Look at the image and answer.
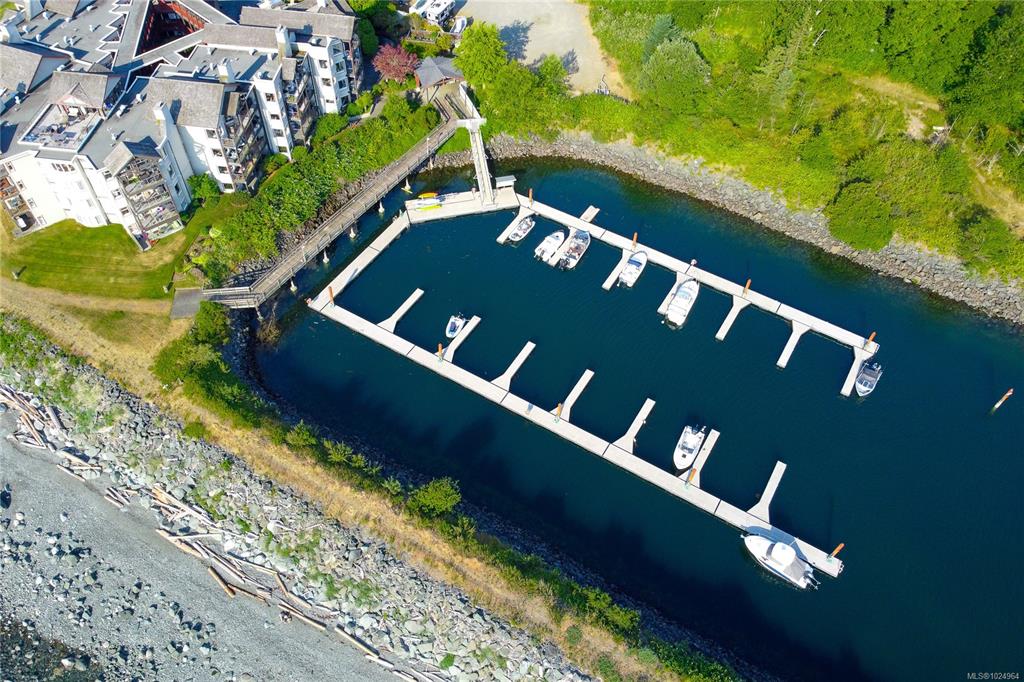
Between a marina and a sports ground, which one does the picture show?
marina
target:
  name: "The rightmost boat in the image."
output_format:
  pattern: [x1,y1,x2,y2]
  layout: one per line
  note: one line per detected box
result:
[854,360,884,398]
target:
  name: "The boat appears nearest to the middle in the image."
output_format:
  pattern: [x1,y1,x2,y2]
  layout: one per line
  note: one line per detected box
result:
[447,310,470,339]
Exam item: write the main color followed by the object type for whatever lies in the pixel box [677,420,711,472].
white boat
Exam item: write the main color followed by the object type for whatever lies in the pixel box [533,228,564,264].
white boat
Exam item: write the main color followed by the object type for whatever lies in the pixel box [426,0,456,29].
white vehicle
